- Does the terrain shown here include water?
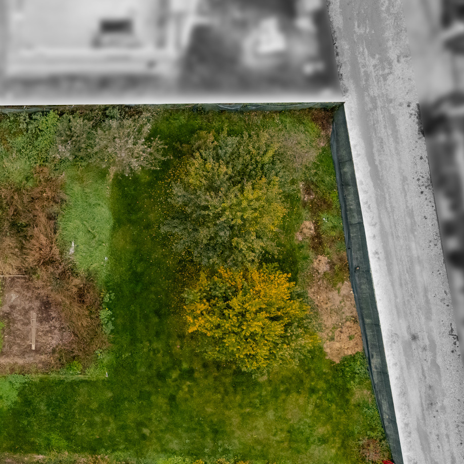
No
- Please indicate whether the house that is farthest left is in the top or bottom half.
top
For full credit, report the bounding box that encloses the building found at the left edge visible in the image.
[3,0,171,93]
